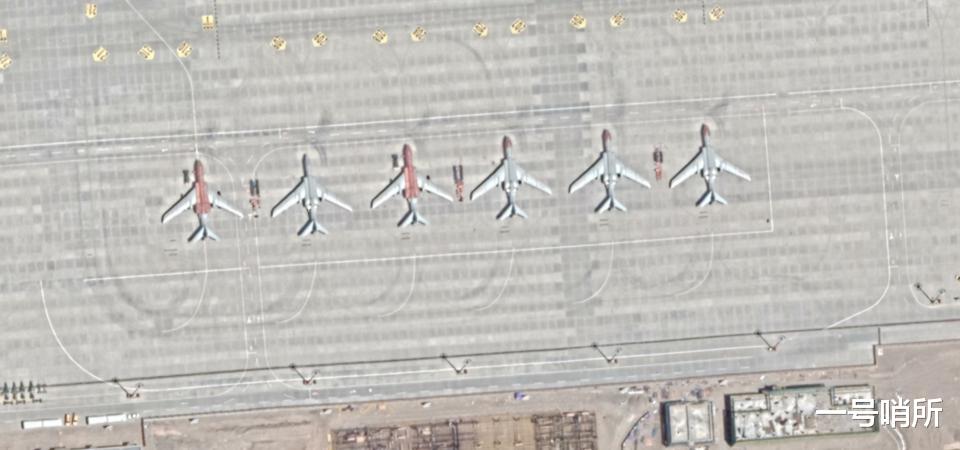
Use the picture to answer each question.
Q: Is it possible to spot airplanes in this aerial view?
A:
Yes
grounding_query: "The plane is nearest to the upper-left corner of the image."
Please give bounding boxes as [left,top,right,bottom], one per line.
[163,159,241,242]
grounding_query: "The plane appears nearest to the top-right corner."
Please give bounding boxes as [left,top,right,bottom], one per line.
[670,124,747,205]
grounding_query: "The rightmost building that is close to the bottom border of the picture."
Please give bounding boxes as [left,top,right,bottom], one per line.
[727,387,878,446]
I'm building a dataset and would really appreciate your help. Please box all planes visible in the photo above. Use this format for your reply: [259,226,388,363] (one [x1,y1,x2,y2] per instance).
[570,129,648,211]
[471,135,548,218]
[270,154,348,236]
[670,124,747,205]
[372,144,450,226]
[163,159,241,242]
